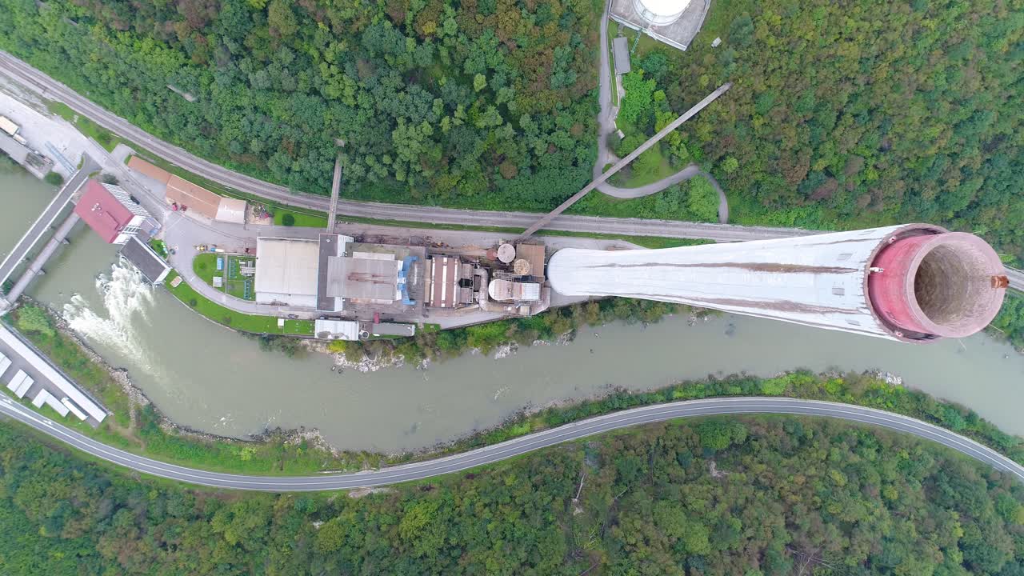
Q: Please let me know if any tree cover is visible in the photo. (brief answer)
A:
Yes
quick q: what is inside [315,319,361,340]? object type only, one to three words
building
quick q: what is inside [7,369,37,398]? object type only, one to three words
shed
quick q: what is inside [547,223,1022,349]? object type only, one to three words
chimney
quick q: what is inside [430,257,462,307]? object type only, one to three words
house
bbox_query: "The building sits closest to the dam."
[75,179,147,244]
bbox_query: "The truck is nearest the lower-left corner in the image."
[63,398,91,419]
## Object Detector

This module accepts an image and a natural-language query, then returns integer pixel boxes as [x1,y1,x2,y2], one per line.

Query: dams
[0,210,87,320]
